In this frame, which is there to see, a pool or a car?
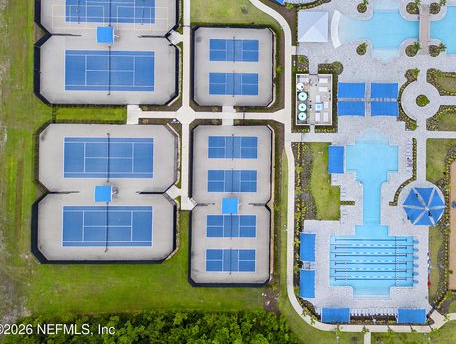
pool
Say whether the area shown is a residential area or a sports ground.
sports ground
